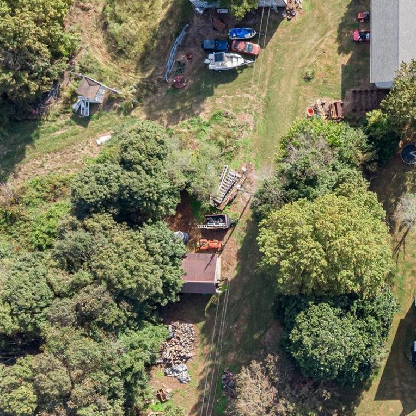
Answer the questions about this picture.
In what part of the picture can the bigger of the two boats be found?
top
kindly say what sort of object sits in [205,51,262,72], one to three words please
boat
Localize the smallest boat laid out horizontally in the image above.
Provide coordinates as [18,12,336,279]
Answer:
[228,26,260,40]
